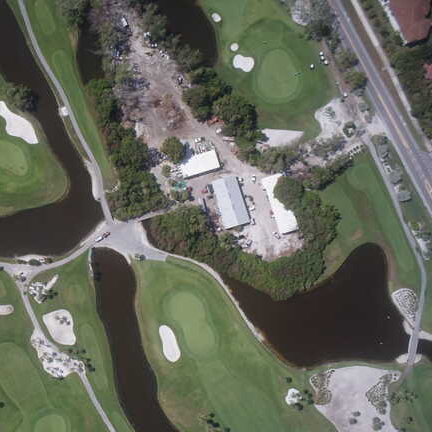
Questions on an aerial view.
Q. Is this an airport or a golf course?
golf course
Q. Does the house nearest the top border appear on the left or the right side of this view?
right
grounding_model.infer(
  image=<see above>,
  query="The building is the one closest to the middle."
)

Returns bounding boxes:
[212,176,250,229]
